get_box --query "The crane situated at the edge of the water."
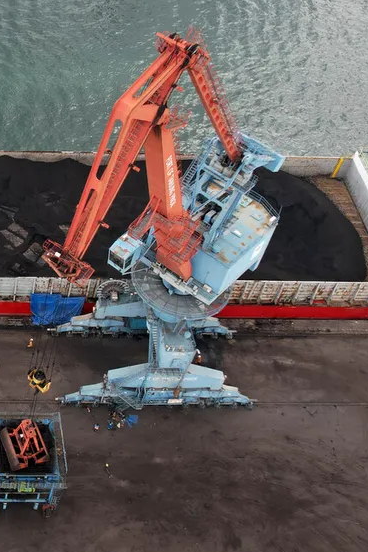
[26,28,295,421]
